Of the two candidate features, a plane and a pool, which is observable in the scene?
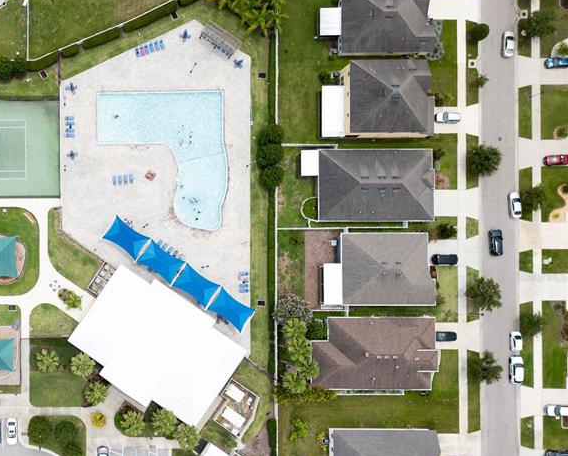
pool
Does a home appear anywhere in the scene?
Yes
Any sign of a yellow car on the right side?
No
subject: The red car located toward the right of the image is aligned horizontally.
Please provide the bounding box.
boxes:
[543,154,568,166]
